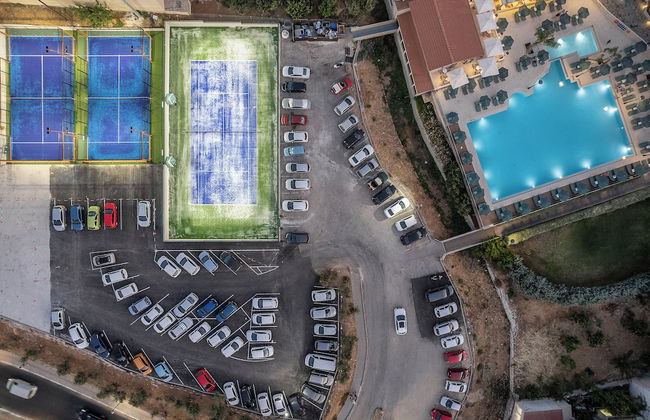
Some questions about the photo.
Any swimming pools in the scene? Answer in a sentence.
Yes, the image includes a swimming pool.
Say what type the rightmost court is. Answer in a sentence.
The rightmost court appears to be a tennis court.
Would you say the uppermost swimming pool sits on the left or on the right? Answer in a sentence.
You can find the uppermost swimming pool on the right side of the picture.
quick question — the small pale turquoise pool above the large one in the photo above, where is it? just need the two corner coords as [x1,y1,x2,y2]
[542,27,602,60]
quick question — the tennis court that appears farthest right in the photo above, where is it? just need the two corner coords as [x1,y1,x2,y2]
[162,19,281,242]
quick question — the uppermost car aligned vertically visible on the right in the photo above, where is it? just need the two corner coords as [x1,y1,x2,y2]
[394,307,408,335]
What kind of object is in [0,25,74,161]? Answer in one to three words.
sports court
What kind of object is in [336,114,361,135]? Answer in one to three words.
car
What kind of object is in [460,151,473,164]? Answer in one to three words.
umbrella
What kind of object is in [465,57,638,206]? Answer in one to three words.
swimming pool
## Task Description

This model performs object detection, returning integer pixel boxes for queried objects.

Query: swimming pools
[465,57,638,206]
[542,27,602,60]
